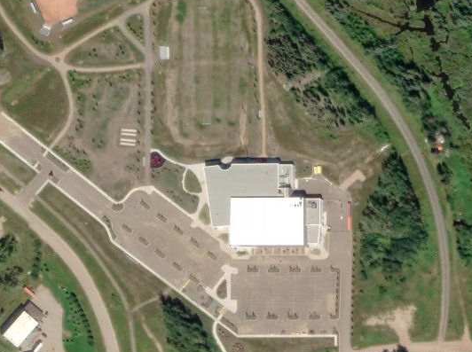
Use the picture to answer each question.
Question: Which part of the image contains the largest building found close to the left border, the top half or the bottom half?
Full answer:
The largest building found close to the left border sits in the bottom half of the picture.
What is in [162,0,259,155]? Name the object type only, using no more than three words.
sports field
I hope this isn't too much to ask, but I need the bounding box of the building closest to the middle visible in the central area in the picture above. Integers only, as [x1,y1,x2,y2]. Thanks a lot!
[205,163,320,247]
